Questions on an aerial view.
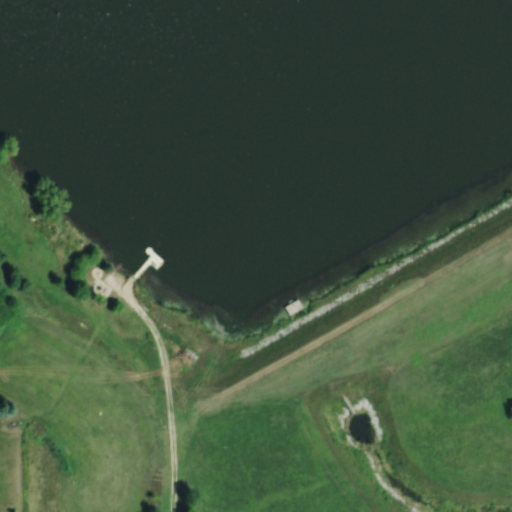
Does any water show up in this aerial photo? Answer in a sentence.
Yes, there is water in the image.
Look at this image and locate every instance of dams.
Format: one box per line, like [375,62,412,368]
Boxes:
[175,196,512,414]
